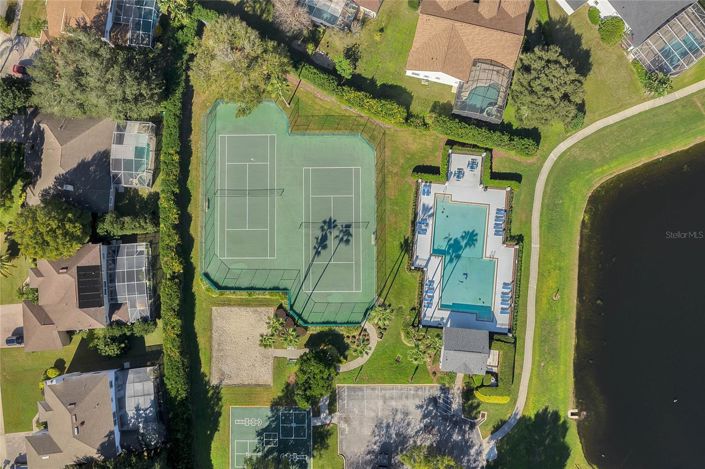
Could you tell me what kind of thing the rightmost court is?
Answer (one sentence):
The rightmost court can be classified as a tennis court.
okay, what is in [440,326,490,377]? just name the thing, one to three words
building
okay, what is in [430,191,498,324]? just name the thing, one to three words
swimming pool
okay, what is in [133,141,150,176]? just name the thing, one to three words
swimming pool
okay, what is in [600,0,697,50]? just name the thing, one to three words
house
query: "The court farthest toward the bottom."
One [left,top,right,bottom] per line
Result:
[230,406,312,469]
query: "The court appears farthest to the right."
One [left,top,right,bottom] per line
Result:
[288,134,375,321]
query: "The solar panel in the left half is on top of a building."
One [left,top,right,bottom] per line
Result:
[78,265,104,308]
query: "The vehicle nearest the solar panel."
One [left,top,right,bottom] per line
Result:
[6,335,24,348]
